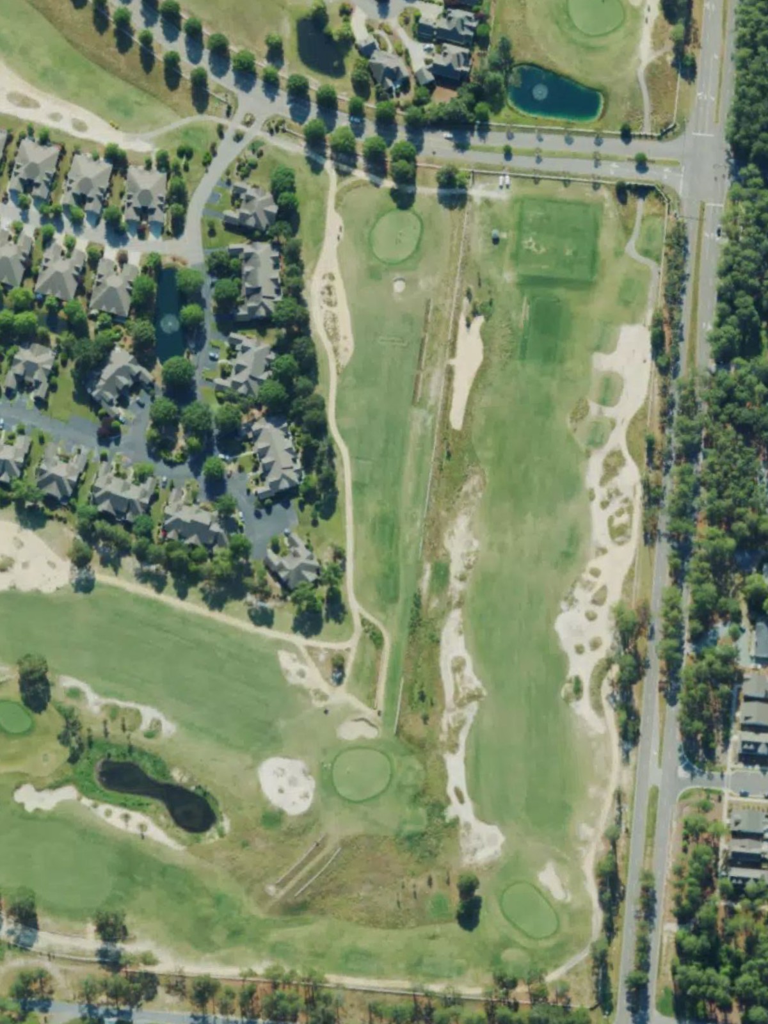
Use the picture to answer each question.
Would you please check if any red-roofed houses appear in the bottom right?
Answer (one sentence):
No, there's no red-roofed house to be seen in the bottom right.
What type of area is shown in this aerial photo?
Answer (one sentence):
The picture captures a golf course.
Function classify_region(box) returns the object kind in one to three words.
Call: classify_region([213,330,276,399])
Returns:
house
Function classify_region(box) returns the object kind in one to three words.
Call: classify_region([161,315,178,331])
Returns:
fountain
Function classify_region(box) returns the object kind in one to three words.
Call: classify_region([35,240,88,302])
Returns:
house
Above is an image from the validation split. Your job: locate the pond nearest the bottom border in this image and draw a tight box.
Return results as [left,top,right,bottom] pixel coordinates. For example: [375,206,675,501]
[97,760,217,834]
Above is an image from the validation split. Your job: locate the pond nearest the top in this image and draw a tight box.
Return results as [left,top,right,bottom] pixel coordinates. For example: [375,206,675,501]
[295,15,352,79]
